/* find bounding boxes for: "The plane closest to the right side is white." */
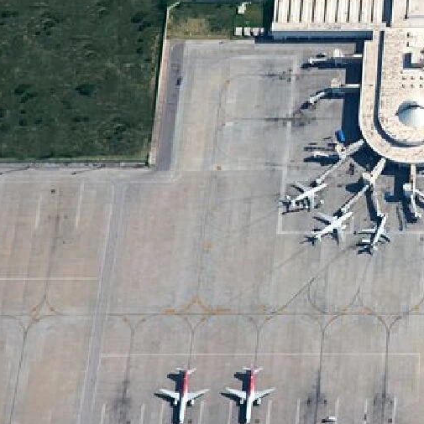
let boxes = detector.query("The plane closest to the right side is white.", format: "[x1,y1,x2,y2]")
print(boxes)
[358,216,397,250]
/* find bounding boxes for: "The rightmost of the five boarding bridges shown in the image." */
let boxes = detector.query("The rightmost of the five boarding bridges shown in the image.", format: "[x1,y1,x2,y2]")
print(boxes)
[402,167,424,220]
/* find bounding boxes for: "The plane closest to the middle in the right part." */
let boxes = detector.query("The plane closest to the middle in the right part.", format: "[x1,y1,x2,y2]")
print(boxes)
[287,177,326,212]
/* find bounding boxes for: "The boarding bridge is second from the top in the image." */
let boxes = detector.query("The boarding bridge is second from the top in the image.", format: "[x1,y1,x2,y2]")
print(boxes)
[305,79,361,105]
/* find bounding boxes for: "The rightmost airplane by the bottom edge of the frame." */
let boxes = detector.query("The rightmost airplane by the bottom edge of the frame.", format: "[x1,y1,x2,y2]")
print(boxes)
[225,369,276,423]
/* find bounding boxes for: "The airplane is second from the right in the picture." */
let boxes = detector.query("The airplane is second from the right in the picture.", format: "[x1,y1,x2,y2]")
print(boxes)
[311,208,352,243]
